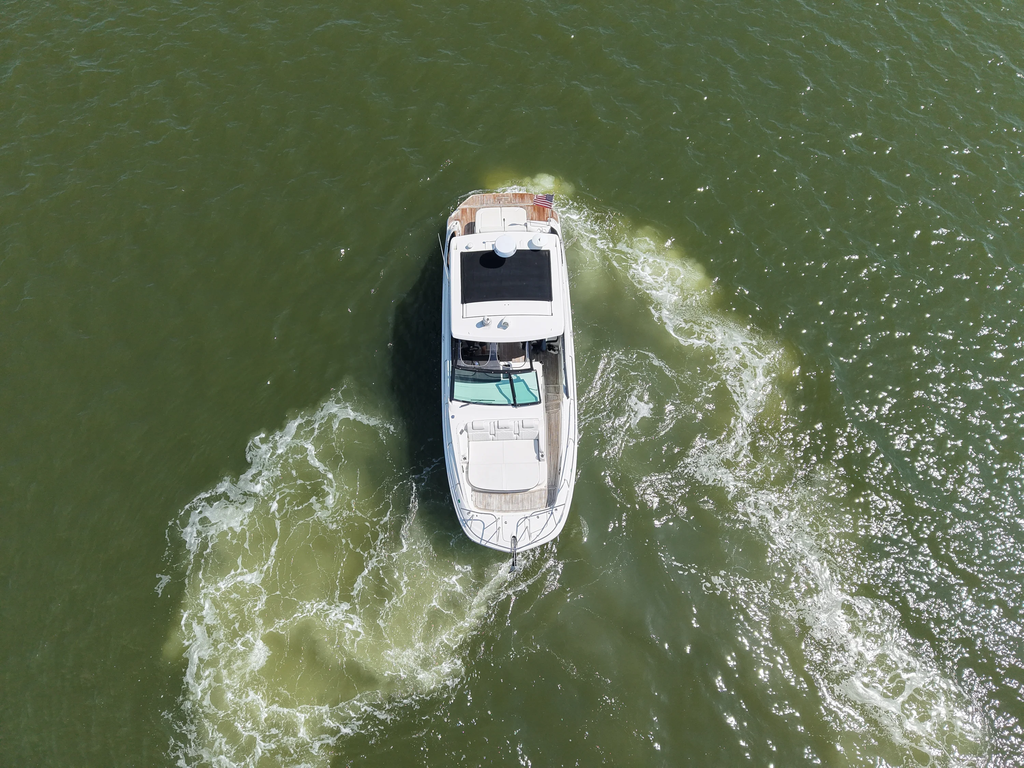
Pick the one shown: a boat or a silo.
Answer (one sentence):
The image shows a boat.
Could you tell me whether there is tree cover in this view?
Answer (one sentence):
No, no tree cover is visible.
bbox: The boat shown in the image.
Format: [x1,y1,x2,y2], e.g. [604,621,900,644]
[438,193,578,561]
